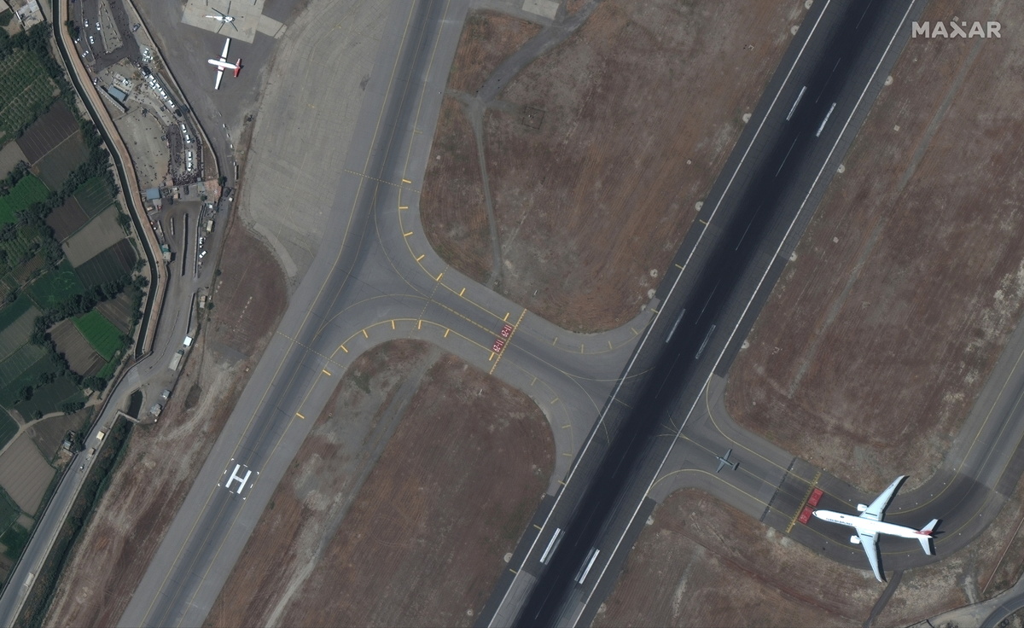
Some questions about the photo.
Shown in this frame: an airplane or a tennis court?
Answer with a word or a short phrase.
airplane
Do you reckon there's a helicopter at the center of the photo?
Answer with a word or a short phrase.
No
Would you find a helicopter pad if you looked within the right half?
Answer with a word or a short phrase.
No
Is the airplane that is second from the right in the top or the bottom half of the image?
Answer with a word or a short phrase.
bottom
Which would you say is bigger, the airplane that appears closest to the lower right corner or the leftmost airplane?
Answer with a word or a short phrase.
the airplane that appears closest to the lower right corner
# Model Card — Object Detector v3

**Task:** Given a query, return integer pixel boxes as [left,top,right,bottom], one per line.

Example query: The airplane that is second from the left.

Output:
[717,448,737,472]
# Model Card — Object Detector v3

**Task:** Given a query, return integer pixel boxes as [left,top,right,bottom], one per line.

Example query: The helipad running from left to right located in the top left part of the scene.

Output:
[181,0,287,43]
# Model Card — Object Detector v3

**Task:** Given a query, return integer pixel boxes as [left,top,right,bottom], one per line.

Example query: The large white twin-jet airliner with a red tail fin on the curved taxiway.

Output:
[812,476,938,582]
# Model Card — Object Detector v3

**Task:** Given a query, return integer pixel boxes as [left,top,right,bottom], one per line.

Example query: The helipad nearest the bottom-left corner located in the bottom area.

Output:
[219,459,259,500]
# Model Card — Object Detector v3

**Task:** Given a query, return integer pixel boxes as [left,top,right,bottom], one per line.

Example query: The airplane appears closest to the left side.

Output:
[208,38,242,88]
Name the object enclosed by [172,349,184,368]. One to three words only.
vehicle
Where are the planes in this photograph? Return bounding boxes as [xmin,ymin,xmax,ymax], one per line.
[812,476,938,582]
[208,38,242,88]
[717,448,737,472]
